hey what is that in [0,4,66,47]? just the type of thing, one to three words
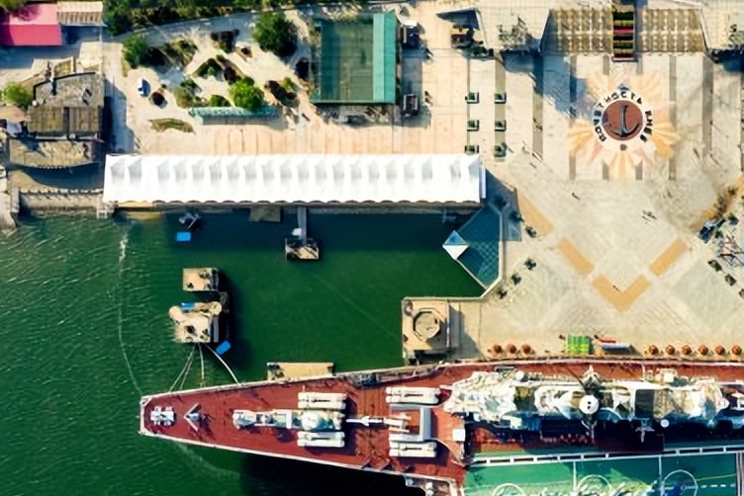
building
